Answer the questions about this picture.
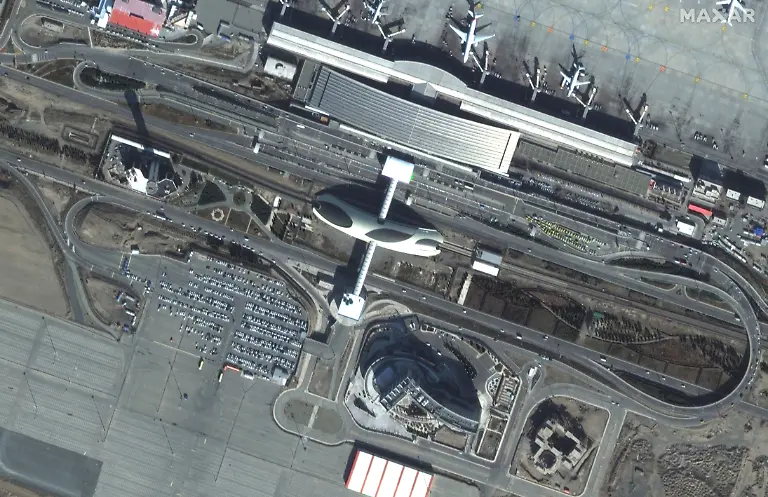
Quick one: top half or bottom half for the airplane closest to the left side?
top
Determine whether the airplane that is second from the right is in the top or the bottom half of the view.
top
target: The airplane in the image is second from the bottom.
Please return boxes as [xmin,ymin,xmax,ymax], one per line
[448,14,494,63]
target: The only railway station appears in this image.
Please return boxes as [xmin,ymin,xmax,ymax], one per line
[313,202,445,253]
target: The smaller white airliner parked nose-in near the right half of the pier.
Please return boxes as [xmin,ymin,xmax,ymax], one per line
[560,66,590,97]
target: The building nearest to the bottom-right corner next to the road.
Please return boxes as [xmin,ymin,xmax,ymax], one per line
[536,414,584,472]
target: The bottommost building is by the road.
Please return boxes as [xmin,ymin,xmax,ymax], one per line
[346,448,435,497]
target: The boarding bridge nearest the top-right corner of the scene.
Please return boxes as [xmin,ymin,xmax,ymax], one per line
[625,105,649,135]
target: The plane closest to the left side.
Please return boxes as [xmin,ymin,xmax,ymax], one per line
[364,0,394,23]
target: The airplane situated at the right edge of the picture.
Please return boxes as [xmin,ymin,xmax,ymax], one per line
[716,0,748,24]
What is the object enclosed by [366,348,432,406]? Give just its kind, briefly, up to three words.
building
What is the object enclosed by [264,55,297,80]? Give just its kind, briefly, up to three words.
building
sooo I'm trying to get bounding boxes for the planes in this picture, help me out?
[448,14,494,63]
[560,66,590,97]
[716,0,748,24]
[364,0,394,23]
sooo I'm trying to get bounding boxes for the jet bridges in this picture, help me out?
[625,105,649,135]
[281,0,291,16]
[322,4,350,33]
[470,49,490,82]
[375,20,407,51]
[524,66,542,100]
[572,85,596,118]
